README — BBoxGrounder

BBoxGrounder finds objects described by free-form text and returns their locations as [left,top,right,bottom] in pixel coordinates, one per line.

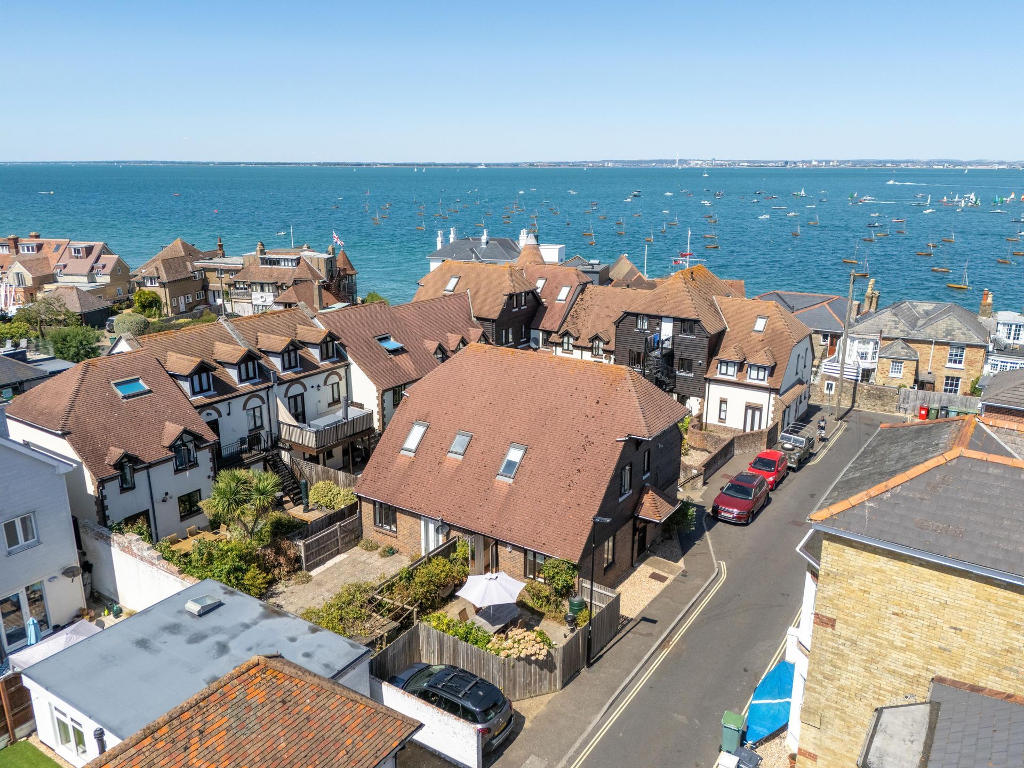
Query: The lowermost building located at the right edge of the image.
[788,413,1024,768]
